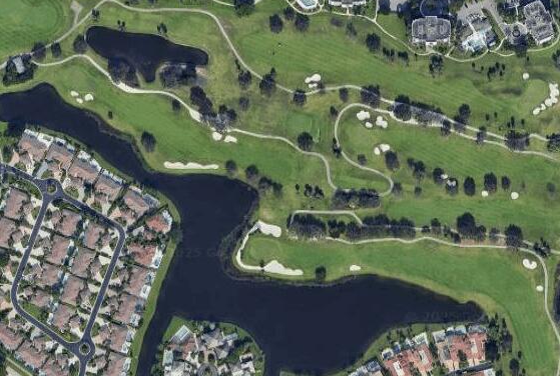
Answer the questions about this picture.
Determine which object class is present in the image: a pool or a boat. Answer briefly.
pool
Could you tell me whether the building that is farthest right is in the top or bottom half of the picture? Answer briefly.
top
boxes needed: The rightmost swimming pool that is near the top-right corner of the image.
[463,32,491,57]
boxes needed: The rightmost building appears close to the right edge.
[523,3,558,45]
